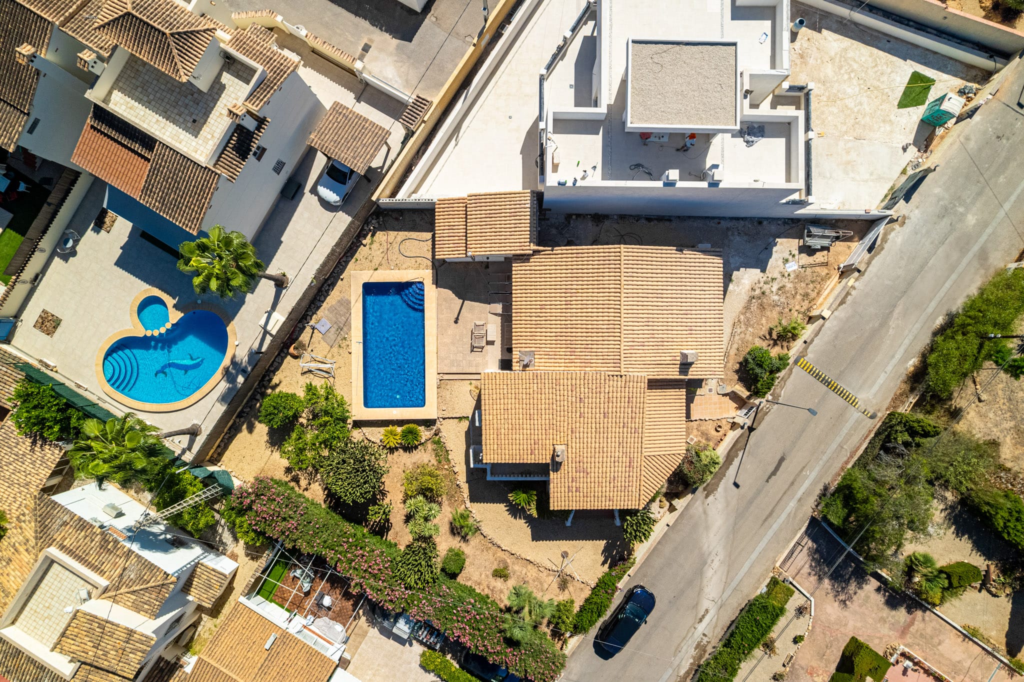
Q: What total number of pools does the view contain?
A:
2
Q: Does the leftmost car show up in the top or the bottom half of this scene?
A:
top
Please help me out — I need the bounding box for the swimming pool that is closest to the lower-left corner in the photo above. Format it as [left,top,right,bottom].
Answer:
[95,289,237,411]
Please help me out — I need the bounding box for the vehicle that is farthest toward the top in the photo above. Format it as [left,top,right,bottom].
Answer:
[316,158,359,206]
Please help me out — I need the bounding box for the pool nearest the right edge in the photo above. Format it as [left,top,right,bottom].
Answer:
[352,272,437,419]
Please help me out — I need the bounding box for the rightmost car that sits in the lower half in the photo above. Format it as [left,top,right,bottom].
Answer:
[597,583,655,661]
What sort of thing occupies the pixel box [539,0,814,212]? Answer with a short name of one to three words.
building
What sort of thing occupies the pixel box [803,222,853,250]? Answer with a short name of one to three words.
trailer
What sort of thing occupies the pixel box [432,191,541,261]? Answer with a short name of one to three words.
shed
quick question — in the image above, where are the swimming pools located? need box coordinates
[352,272,437,419]
[95,289,237,411]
